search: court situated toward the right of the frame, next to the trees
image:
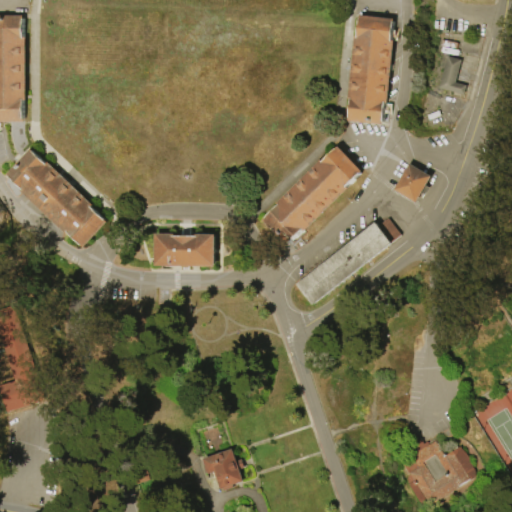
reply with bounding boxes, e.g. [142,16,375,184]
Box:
[476,390,512,468]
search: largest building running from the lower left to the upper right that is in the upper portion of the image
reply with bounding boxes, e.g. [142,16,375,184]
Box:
[264,146,364,241]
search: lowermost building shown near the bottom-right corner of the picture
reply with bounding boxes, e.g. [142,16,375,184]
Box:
[406,436,476,504]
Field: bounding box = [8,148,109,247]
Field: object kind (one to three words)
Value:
building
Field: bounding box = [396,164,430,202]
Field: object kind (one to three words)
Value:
building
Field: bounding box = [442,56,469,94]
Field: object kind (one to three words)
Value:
house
